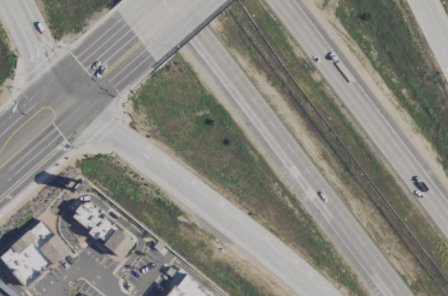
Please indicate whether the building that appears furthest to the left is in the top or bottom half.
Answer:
bottom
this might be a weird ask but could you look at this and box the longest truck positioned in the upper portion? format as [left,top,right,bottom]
[331,56,359,91]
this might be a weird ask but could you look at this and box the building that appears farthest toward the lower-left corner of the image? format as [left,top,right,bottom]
[0,220,70,287]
